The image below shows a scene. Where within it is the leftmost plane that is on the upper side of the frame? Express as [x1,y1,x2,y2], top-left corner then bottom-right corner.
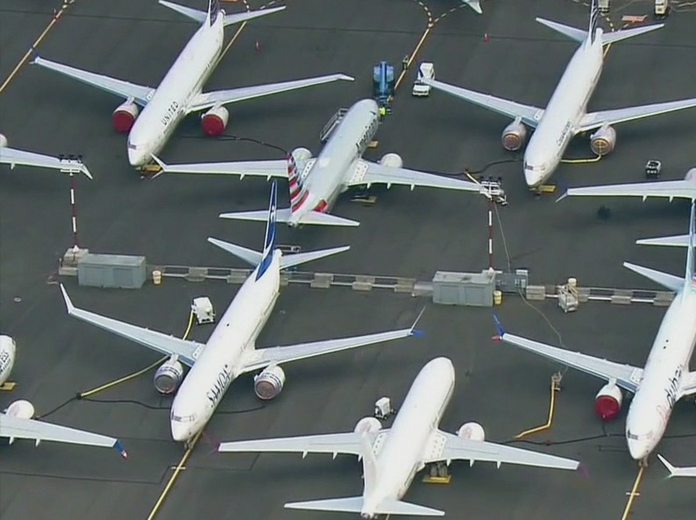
[0,141,94,186]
